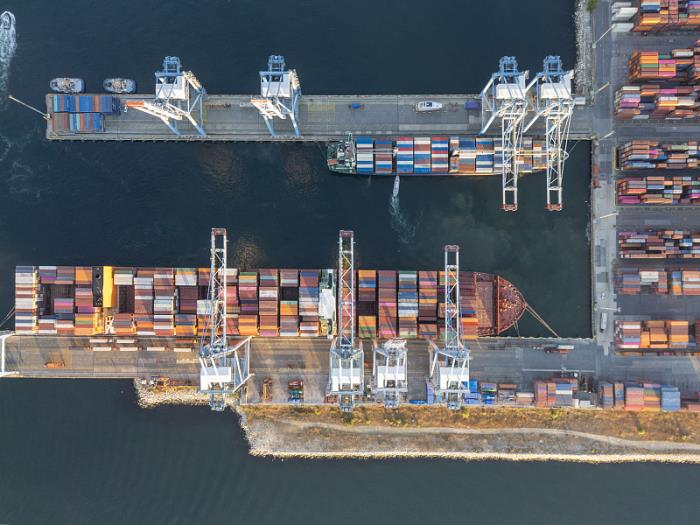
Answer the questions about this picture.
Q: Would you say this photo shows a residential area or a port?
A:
port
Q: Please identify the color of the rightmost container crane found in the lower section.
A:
white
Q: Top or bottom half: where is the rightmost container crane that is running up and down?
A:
top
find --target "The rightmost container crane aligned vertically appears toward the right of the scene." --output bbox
[515,55,576,214]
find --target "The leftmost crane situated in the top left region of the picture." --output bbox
[124,55,209,137]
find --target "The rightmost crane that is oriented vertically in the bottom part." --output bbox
[417,245,469,414]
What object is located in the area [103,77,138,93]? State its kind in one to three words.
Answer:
boat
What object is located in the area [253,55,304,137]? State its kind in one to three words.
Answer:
container crane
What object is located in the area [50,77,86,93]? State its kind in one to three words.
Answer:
boat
